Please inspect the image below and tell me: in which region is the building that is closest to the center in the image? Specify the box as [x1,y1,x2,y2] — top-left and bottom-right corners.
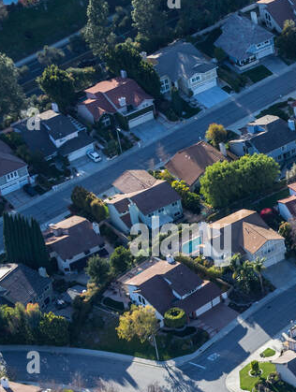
[99,179,188,238]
